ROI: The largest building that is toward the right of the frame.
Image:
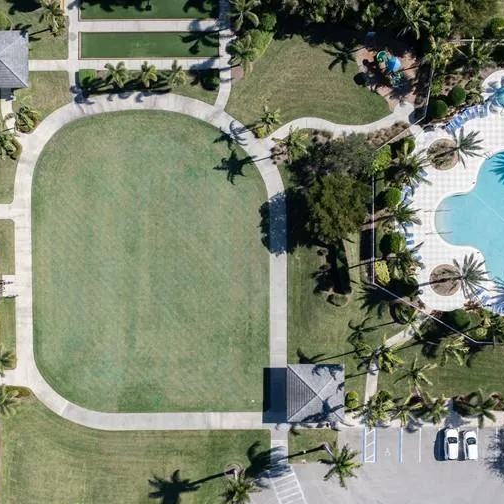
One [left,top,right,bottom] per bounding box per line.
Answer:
[287,364,345,422]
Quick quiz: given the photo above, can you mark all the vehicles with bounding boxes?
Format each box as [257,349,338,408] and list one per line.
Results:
[463,429,479,460]
[443,427,459,459]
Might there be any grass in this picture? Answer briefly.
Yes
